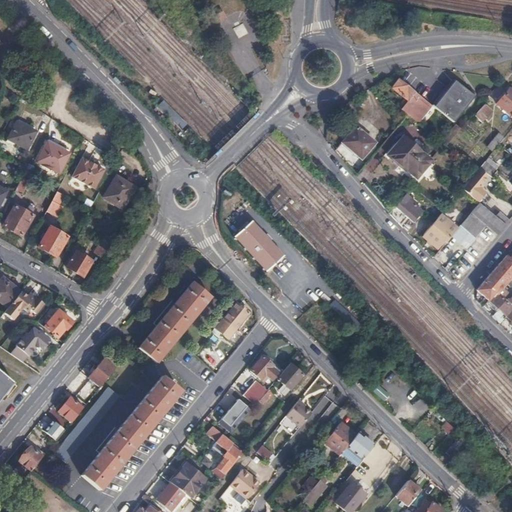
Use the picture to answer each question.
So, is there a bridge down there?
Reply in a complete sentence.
Yes, the image includes a bridge.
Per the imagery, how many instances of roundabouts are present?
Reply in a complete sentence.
The picture shows 2 roundabouts.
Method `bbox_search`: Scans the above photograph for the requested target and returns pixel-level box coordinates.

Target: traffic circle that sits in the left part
[158,170,216,226]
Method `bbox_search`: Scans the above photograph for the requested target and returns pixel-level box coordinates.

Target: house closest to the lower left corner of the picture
[18,445,44,472]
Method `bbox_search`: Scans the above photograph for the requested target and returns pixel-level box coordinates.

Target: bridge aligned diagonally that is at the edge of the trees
[209,110,276,171]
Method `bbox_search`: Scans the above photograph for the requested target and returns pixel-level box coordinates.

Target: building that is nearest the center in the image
[235,221,285,274]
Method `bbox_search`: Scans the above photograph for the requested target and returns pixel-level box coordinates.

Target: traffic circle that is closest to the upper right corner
[290,34,356,100]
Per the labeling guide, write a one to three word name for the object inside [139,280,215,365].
building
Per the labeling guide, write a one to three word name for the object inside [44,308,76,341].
house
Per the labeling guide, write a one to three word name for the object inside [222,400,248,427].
building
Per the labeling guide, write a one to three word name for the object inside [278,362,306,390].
house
